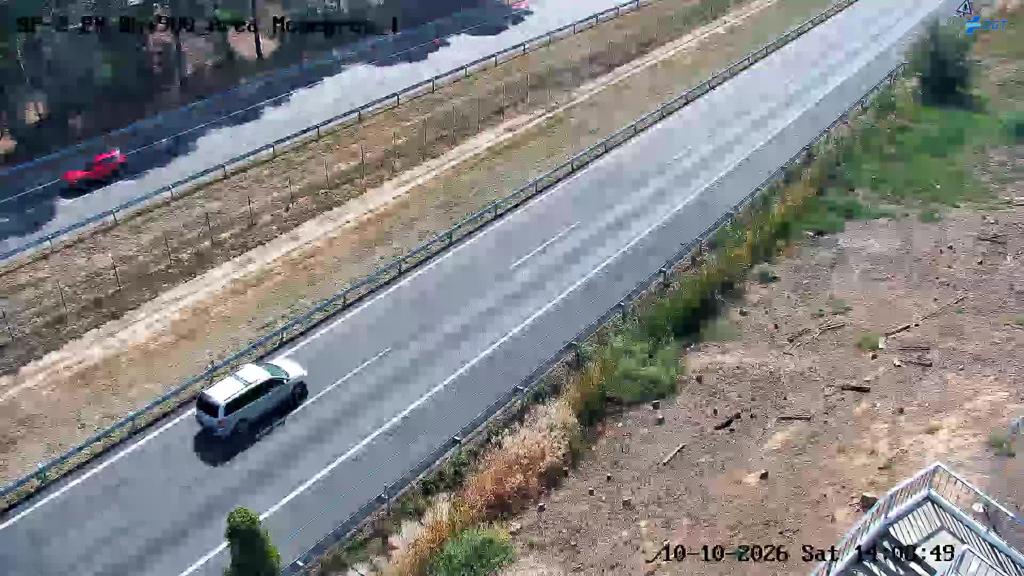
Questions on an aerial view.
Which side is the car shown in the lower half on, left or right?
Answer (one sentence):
It is on the left.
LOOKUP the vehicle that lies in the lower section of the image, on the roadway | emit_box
[194,359,311,437]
